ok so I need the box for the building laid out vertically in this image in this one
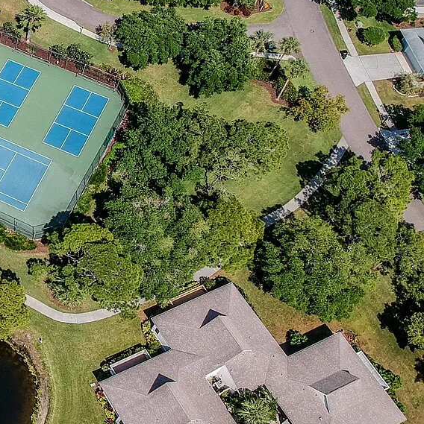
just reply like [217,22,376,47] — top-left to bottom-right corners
[393,19,424,83]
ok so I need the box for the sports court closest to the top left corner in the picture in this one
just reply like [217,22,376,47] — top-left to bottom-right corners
[0,59,41,128]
